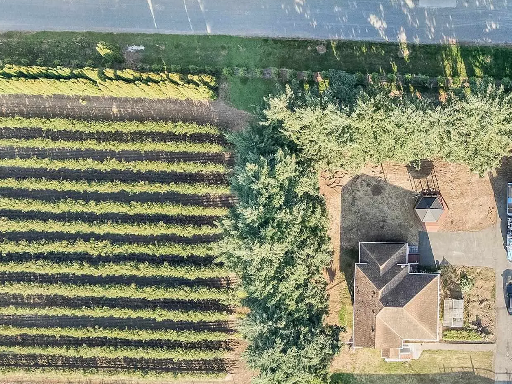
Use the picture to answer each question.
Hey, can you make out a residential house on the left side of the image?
No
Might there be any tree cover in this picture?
Yes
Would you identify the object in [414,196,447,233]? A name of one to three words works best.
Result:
gazebo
